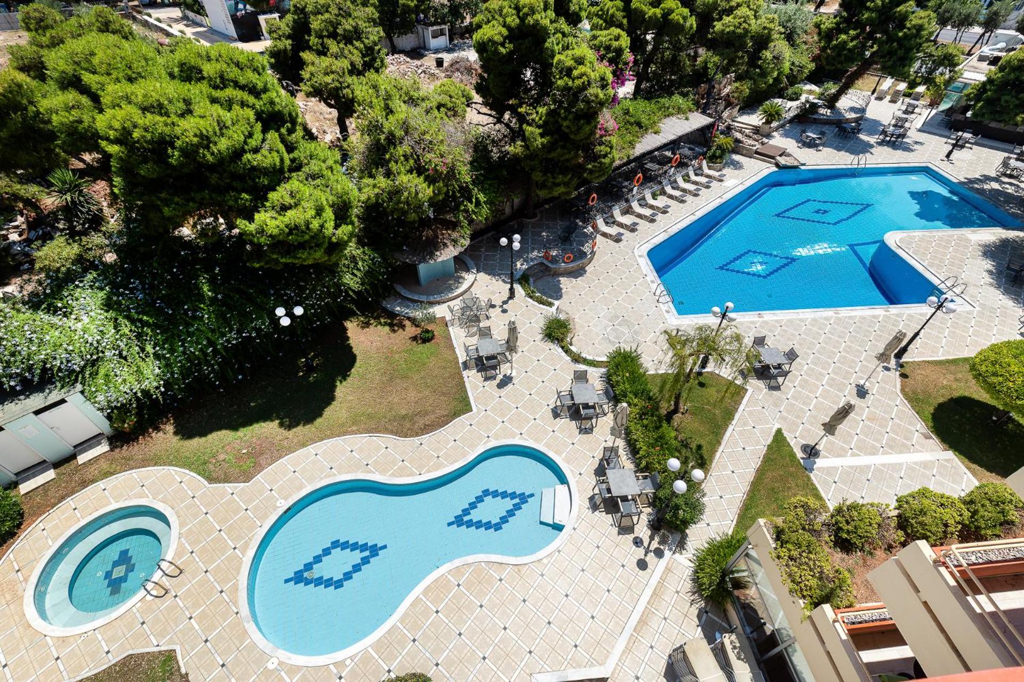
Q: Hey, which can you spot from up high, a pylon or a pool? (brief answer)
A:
pool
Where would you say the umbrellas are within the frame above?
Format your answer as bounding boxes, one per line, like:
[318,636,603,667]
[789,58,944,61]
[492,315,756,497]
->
[799,402,852,464]
[856,335,910,391]
[941,113,980,161]
[600,412,624,469]
[505,322,521,381]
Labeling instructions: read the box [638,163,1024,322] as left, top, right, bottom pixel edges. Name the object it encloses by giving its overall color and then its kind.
blue swimming pool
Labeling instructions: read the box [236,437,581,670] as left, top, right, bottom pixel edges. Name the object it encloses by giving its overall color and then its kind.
blue swimming pool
